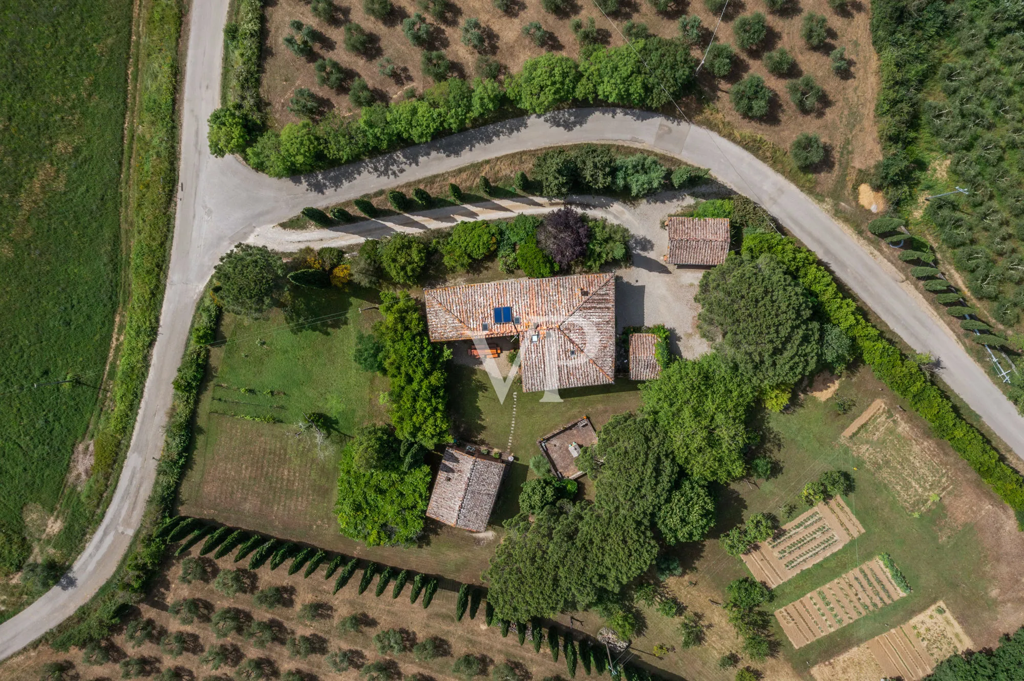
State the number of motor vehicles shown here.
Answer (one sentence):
The photo contains no motor vehicles.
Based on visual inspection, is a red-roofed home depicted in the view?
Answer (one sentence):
No, I find no red-roofed home anywhere in the image.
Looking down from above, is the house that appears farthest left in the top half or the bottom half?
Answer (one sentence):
You can find the house that appears farthest left in the bottom half.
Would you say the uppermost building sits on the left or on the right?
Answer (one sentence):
It is on the right.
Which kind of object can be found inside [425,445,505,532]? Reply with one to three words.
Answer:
house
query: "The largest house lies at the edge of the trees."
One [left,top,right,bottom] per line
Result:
[424,271,616,394]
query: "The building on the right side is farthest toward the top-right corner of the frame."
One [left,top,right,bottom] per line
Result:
[664,216,731,267]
